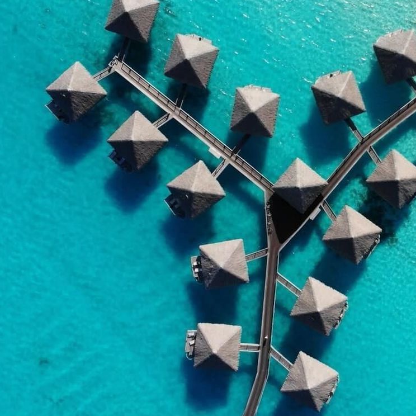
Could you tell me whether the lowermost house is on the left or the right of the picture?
right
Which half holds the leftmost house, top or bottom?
top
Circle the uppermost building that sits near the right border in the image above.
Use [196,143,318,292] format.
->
[373,28,416,85]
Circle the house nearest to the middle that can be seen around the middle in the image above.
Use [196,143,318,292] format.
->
[162,160,226,221]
